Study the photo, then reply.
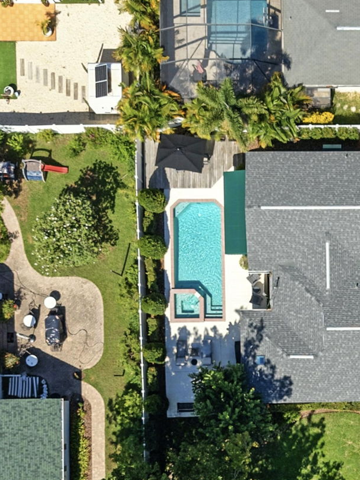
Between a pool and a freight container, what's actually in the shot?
pool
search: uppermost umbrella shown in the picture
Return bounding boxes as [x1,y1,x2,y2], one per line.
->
[156,134,213,172]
